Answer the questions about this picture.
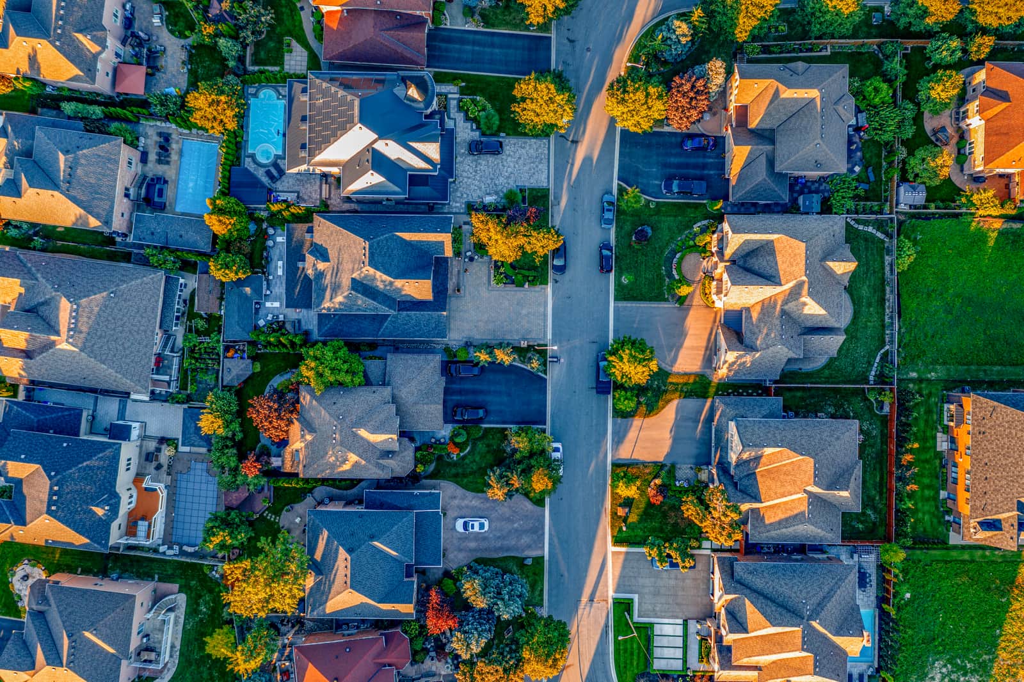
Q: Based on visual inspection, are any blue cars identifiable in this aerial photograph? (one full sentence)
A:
Yes, the frame does contain a blue car.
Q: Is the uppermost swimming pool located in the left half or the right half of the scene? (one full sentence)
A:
It is on the left.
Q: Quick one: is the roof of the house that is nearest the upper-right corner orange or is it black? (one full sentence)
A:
From above, the roof of the house that is nearest the upper-right corner appears orange.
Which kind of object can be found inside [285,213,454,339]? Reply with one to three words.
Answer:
house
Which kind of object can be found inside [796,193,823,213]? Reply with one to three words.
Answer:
shed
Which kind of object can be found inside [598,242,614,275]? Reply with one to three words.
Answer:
car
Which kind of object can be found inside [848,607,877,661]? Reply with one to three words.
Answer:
swimming pool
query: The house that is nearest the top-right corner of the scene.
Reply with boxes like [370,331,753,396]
[951,61,1024,210]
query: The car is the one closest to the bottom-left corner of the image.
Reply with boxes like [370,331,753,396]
[456,517,489,533]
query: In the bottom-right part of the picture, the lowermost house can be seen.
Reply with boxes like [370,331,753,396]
[709,551,873,682]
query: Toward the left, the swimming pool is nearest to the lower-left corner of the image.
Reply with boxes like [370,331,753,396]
[171,459,219,548]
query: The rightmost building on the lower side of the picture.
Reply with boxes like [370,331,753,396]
[942,393,1024,552]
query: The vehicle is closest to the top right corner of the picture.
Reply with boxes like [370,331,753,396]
[681,135,715,151]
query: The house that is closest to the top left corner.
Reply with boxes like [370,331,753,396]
[0,0,126,96]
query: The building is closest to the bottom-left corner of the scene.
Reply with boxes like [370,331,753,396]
[0,575,179,682]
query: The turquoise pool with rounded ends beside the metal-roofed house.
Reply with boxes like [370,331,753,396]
[247,87,286,165]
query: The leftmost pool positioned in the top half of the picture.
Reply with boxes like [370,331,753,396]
[173,138,220,214]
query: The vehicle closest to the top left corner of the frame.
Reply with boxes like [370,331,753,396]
[468,138,502,155]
